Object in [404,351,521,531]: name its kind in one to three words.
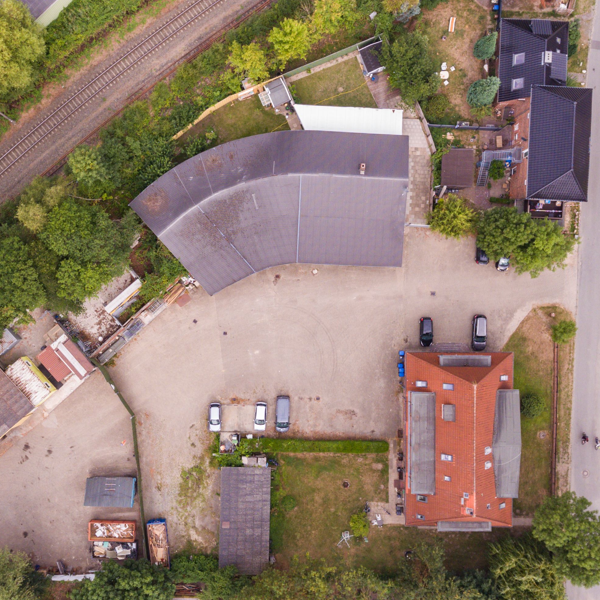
house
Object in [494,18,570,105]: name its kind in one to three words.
house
